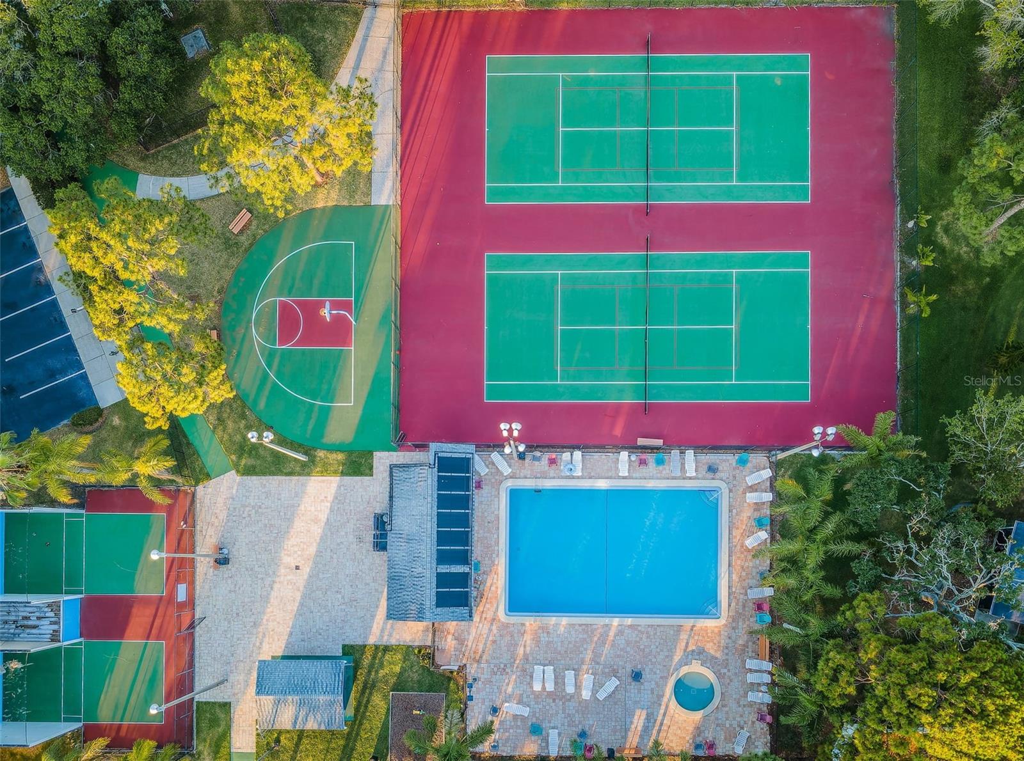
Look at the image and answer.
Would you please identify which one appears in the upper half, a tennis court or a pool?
tennis court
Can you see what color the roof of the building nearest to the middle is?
blue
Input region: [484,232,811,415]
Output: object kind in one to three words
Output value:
tennis court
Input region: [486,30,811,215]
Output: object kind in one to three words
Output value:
tennis court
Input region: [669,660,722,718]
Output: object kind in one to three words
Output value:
swimming pool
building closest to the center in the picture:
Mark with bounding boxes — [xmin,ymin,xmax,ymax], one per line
[387,442,474,622]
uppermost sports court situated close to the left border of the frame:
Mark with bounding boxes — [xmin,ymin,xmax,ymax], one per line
[0,504,165,604]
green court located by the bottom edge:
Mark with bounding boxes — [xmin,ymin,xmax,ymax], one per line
[0,638,164,749]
